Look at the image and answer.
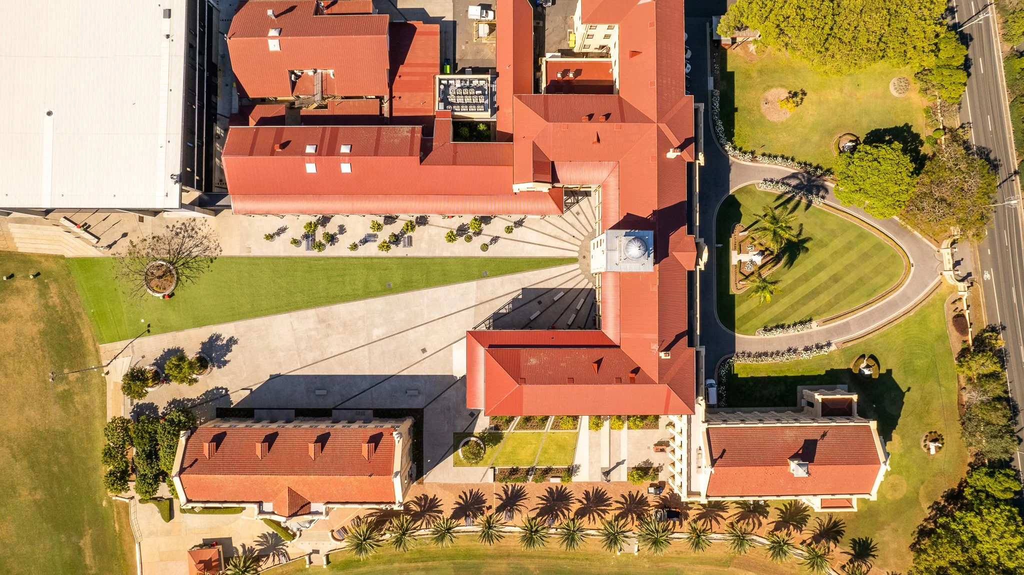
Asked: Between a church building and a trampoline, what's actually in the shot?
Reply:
church building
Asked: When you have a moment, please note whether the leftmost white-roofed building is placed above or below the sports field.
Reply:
above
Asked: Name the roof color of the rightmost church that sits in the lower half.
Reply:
red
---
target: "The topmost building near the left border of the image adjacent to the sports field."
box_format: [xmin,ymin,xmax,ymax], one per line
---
[0,0,217,218]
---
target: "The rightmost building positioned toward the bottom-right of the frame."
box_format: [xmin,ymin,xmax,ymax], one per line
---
[696,385,895,513]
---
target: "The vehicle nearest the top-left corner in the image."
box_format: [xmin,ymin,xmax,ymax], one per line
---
[467,5,494,20]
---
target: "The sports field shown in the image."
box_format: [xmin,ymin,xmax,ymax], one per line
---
[0,250,135,575]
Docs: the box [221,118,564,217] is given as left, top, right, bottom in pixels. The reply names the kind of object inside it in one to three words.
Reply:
building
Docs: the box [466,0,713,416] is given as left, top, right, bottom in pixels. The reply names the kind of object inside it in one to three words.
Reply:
building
